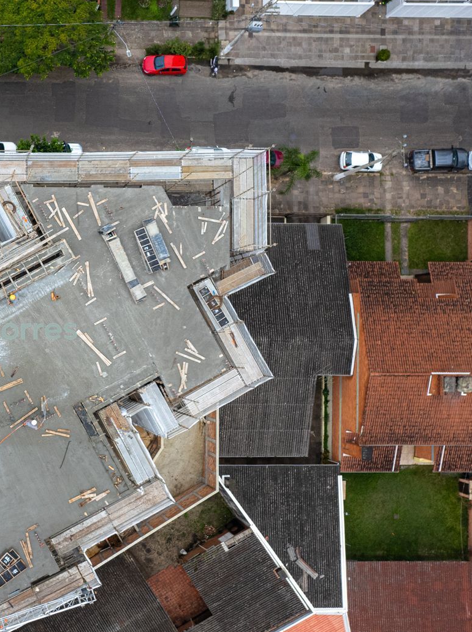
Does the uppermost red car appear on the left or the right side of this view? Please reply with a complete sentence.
The uppermost red car appears in the left half of the scene.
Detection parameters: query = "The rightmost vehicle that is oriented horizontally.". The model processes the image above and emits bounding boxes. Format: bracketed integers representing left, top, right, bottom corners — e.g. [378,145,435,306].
[404,146,467,172]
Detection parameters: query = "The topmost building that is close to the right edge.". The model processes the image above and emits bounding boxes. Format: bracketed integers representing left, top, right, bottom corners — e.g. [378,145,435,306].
[333,261,472,473]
